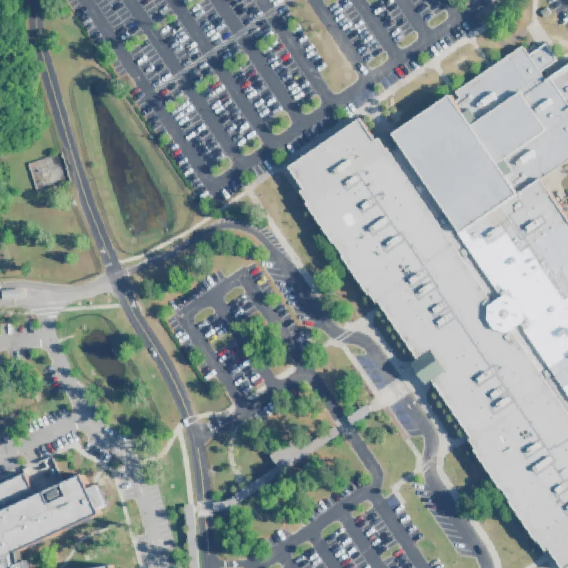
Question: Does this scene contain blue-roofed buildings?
No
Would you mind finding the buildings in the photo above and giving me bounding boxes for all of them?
[28,156,69,190]
[289,44,568,568]
[0,470,116,568]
